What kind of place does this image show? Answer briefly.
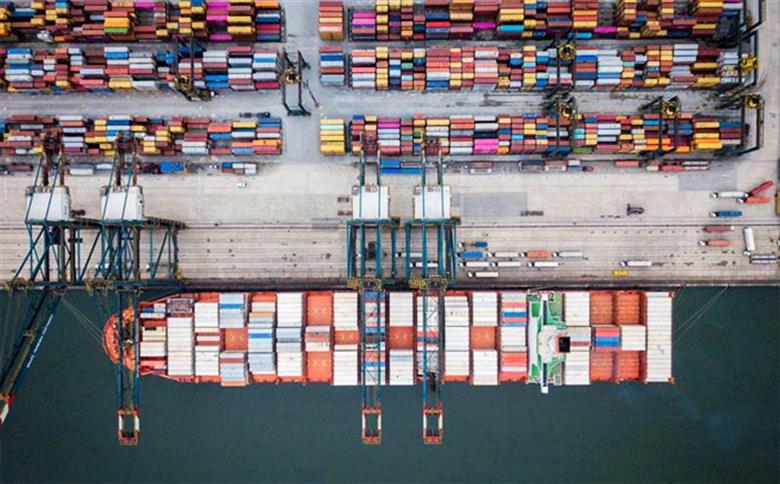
port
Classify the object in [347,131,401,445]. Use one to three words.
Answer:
container crane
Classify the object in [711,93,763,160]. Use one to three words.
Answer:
container crane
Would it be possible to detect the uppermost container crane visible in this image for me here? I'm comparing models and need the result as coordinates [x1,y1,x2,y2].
[714,0,766,40]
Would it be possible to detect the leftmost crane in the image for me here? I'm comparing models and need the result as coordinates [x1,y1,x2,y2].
[0,131,133,444]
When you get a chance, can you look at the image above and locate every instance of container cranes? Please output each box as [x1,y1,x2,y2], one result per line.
[75,131,197,445]
[280,49,310,115]
[542,95,577,160]
[0,131,133,444]
[714,0,766,40]
[347,131,401,445]
[711,93,763,160]
[174,36,213,105]
[542,34,577,104]
[637,94,682,159]
[401,131,460,445]
[710,29,762,97]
